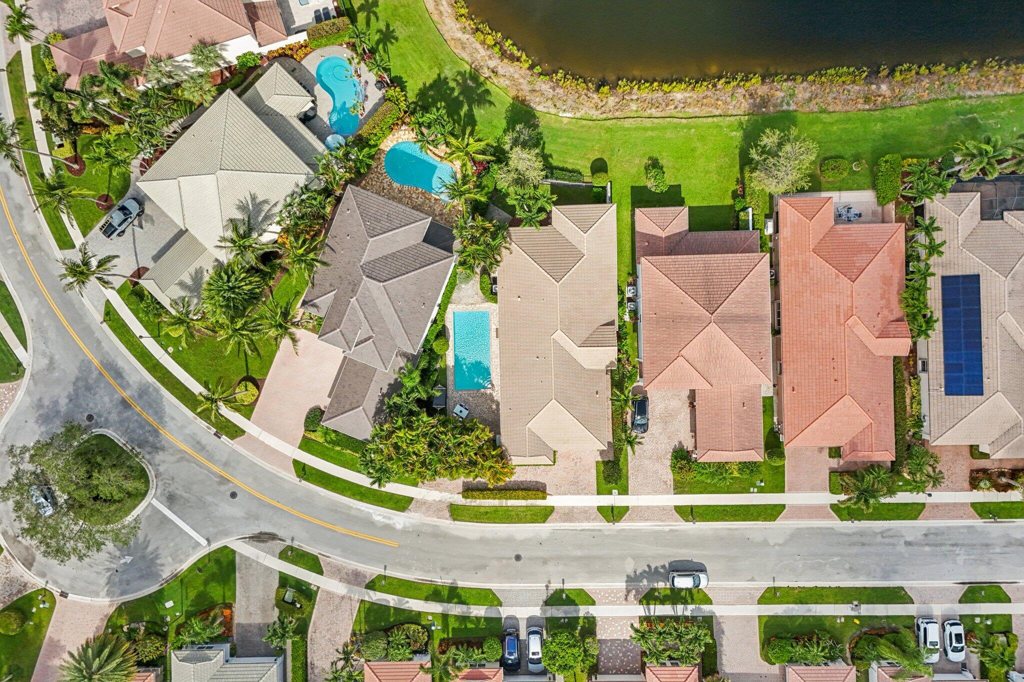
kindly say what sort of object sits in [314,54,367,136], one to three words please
swimming pool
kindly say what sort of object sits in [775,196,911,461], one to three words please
house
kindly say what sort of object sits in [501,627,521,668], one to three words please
car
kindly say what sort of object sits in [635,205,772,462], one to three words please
house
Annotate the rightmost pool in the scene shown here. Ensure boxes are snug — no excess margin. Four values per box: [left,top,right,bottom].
[452,310,495,397]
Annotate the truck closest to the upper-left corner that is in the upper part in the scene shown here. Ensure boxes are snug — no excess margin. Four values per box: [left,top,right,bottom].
[100,197,144,241]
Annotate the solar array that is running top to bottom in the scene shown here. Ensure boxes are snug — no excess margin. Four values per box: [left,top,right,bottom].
[942,274,983,395]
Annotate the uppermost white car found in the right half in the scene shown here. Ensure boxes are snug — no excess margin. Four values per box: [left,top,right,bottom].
[669,569,707,590]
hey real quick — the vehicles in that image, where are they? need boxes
[669,569,707,590]
[100,197,144,241]
[501,627,521,668]
[943,619,964,659]
[916,619,940,660]
[631,394,650,434]
[525,627,544,667]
